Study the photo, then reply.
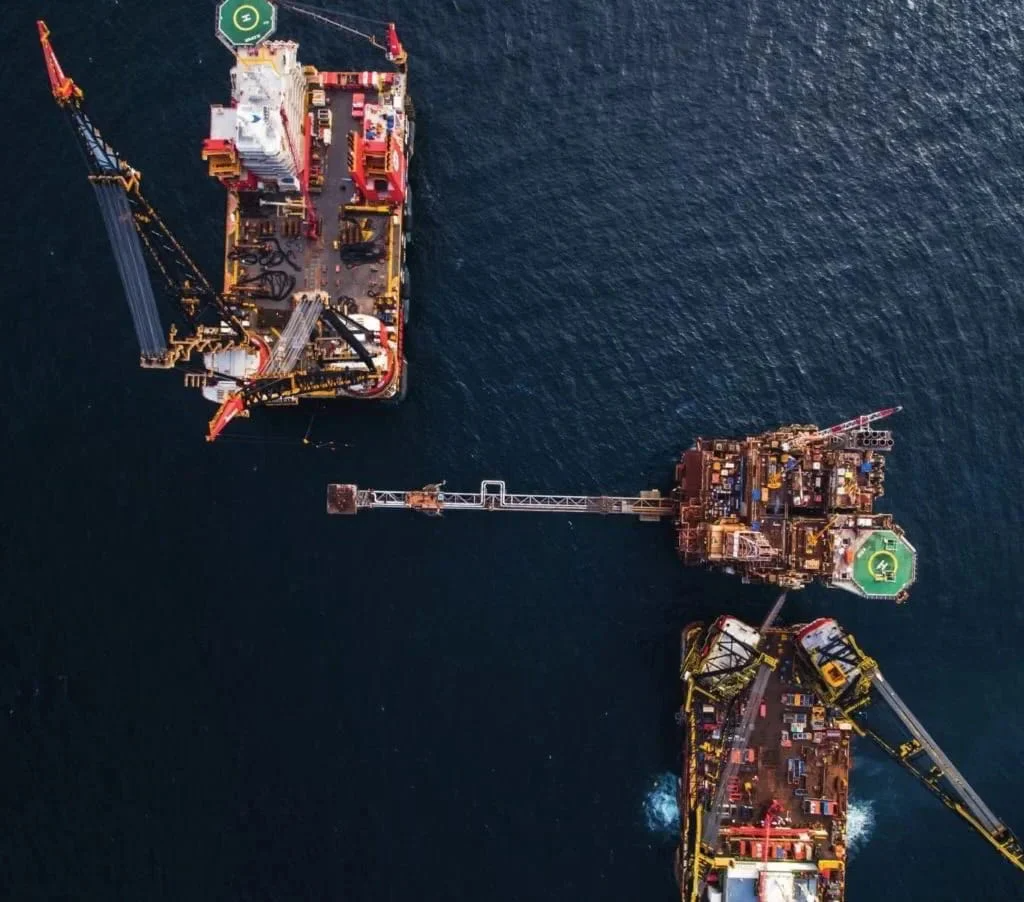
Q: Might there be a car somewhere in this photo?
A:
No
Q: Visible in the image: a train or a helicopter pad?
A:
helicopter pad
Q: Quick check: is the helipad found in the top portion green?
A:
Yes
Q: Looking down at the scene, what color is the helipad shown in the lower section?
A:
green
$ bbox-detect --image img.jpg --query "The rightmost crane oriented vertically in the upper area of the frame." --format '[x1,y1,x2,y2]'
[282,109,319,242]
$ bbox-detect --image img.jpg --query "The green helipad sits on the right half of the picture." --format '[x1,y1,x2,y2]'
[851,524,917,602]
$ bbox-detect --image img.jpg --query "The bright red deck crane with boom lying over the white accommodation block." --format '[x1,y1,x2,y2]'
[760,795,780,902]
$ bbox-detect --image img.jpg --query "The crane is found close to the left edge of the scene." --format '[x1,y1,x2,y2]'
[38,23,281,401]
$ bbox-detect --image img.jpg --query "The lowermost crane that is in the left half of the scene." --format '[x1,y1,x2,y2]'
[206,292,398,442]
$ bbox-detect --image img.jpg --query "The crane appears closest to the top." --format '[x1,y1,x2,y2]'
[274,0,409,79]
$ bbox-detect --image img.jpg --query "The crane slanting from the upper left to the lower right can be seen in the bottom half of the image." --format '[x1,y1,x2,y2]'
[790,614,1024,878]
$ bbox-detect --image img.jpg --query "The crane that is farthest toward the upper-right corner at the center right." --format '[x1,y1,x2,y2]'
[781,407,903,450]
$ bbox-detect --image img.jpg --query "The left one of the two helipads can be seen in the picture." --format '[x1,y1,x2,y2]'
[217,0,276,48]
